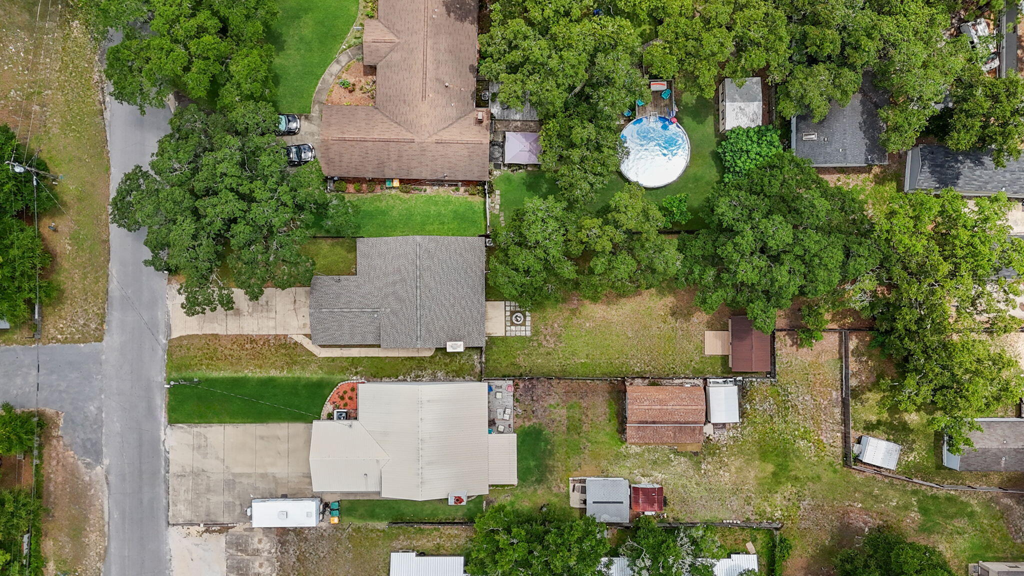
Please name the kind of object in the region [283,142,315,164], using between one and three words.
car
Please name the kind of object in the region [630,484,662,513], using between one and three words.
shed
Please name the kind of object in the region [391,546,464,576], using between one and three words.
house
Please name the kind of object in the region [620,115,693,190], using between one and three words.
swimming pool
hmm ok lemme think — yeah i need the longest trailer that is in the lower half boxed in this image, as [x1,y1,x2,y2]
[243,490,326,527]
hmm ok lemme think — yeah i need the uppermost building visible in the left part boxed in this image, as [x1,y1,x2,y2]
[320,0,489,182]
